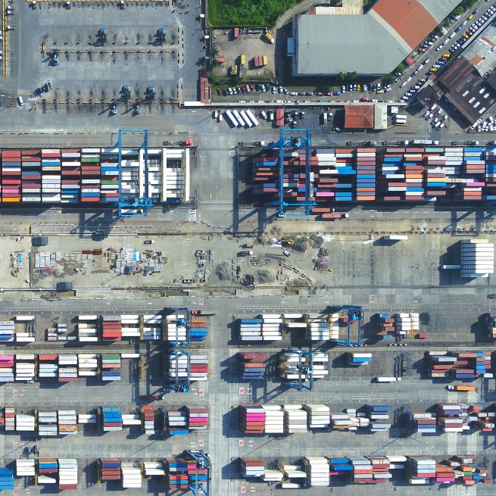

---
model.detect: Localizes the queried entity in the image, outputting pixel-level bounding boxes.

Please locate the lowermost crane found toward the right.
[283,347,313,389]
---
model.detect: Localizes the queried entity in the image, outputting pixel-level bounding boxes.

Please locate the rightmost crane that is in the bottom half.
[330,305,362,344]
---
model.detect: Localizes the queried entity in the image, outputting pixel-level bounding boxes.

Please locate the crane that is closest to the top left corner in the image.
[109,129,154,216]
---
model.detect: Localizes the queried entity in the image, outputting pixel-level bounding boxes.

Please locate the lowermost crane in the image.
[185,449,210,496]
